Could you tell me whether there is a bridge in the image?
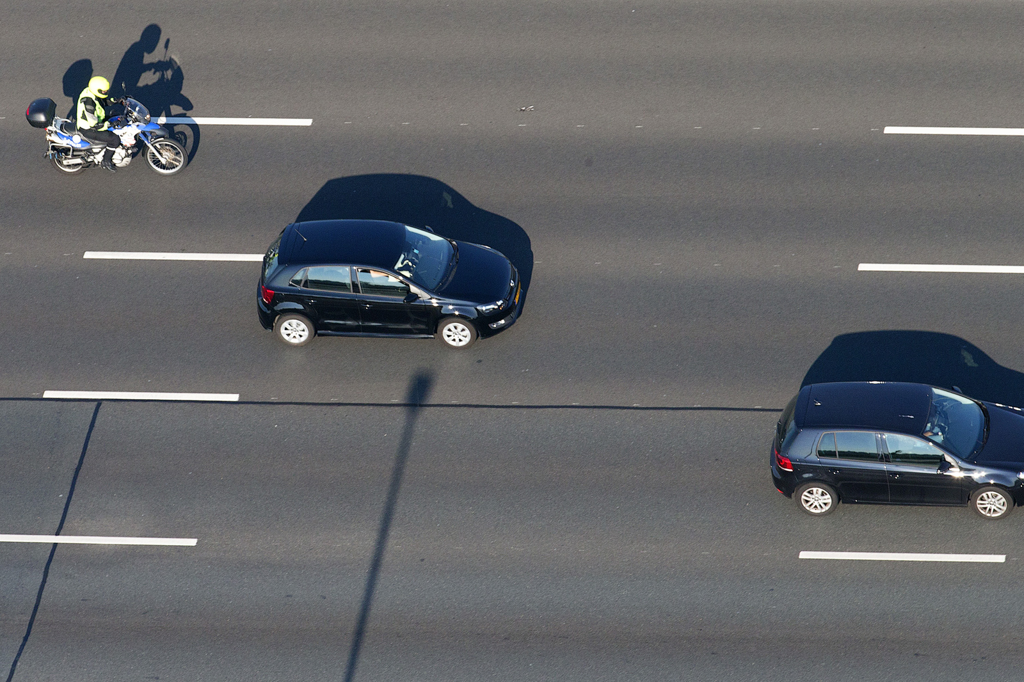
No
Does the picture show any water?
No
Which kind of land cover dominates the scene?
paved ground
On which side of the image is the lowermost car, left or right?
right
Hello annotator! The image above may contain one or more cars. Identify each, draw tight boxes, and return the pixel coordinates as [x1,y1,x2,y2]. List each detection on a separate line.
[771,379,1024,519]
[255,218,524,350]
